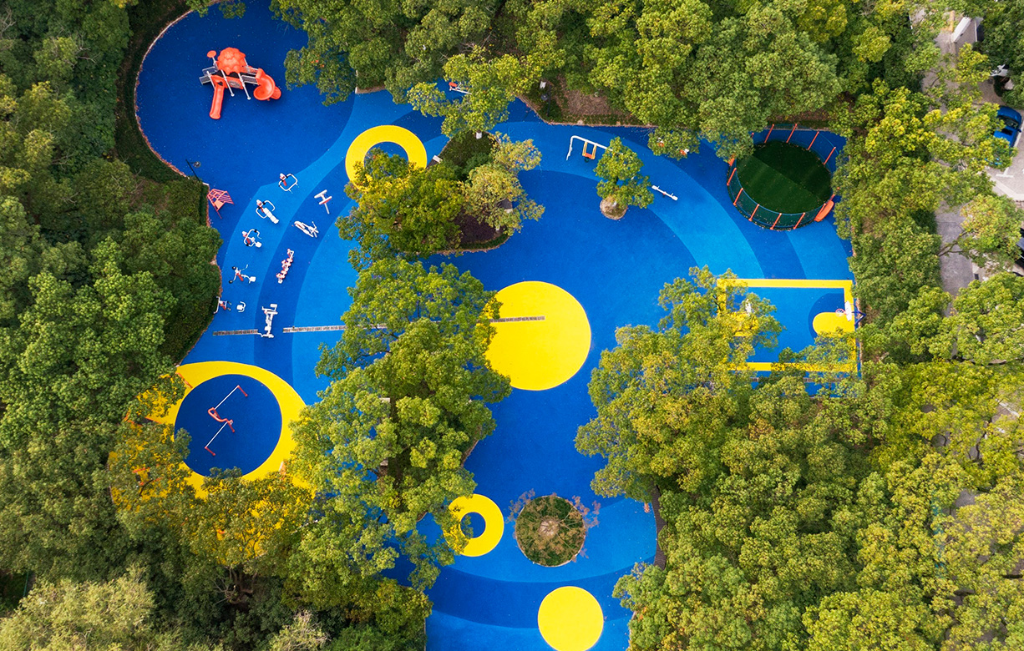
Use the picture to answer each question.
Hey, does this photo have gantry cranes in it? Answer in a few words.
No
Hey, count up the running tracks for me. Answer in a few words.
0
